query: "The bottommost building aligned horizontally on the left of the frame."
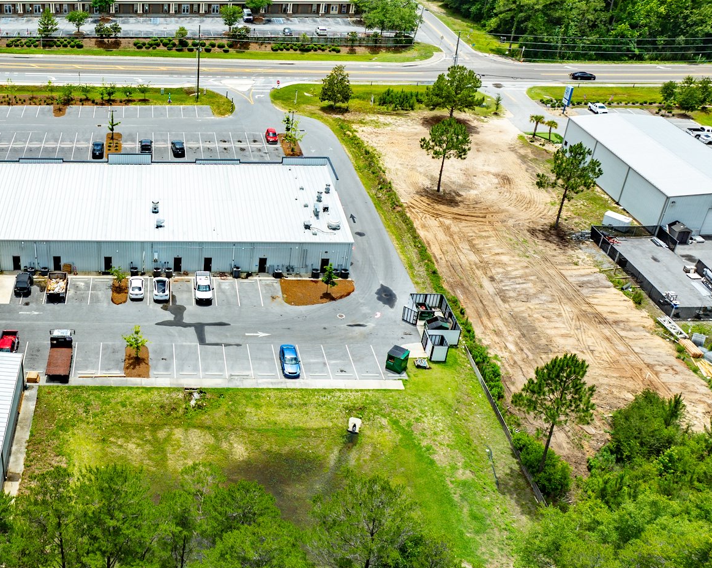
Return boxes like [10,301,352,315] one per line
[0,155,357,274]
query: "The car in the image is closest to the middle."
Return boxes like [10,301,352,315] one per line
[278,344,303,376]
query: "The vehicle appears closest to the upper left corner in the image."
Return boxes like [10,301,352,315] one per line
[90,142,105,161]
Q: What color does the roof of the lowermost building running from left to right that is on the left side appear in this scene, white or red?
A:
white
